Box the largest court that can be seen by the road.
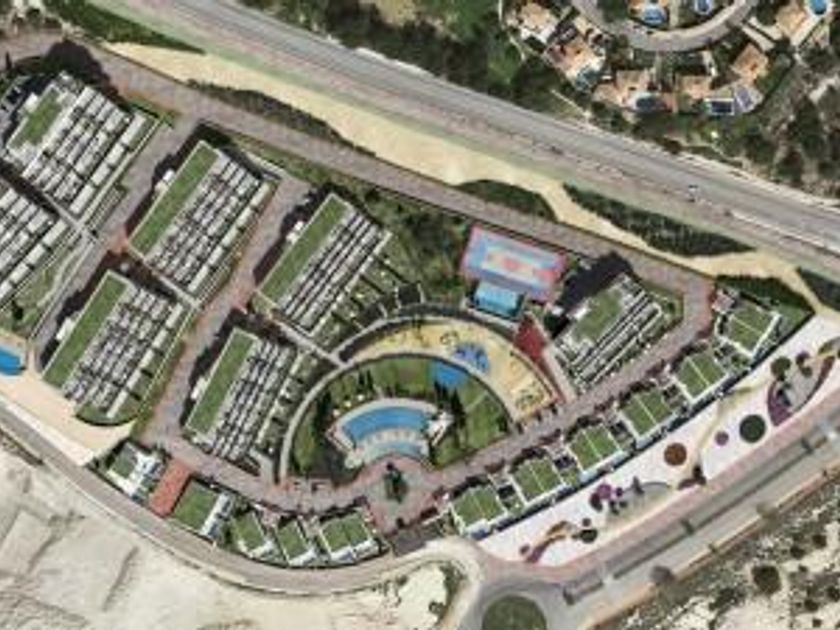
[459,223,566,303]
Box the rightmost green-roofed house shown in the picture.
[717,291,787,361]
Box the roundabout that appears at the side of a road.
[457,571,571,630]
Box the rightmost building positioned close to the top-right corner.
[769,2,818,48]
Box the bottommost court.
[472,281,524,319]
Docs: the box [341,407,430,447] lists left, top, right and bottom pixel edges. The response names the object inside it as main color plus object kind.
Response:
blue swimming pool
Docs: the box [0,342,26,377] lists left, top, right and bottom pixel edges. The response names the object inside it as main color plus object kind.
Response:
blue swimming pool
